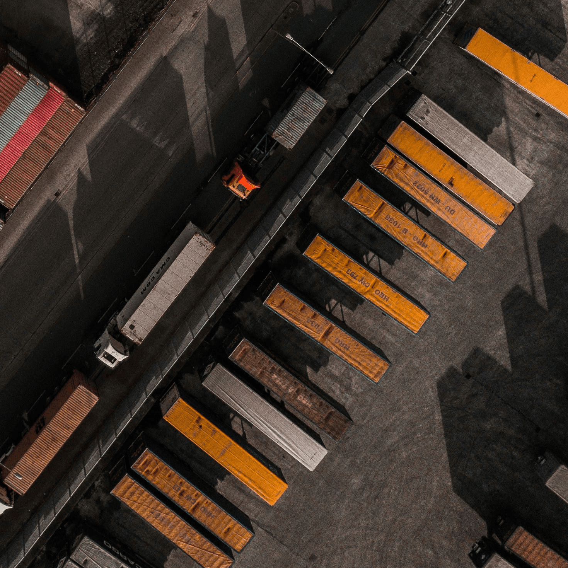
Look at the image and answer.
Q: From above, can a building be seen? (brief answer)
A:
No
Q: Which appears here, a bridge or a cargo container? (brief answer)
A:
cargo container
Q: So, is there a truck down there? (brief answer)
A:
Yes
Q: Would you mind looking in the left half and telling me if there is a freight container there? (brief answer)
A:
Yes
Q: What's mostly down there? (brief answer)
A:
paved ground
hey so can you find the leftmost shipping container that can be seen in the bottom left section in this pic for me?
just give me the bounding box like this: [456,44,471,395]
[2,368,97,492]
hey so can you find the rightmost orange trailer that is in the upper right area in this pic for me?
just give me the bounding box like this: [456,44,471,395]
[451,23,568,125]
